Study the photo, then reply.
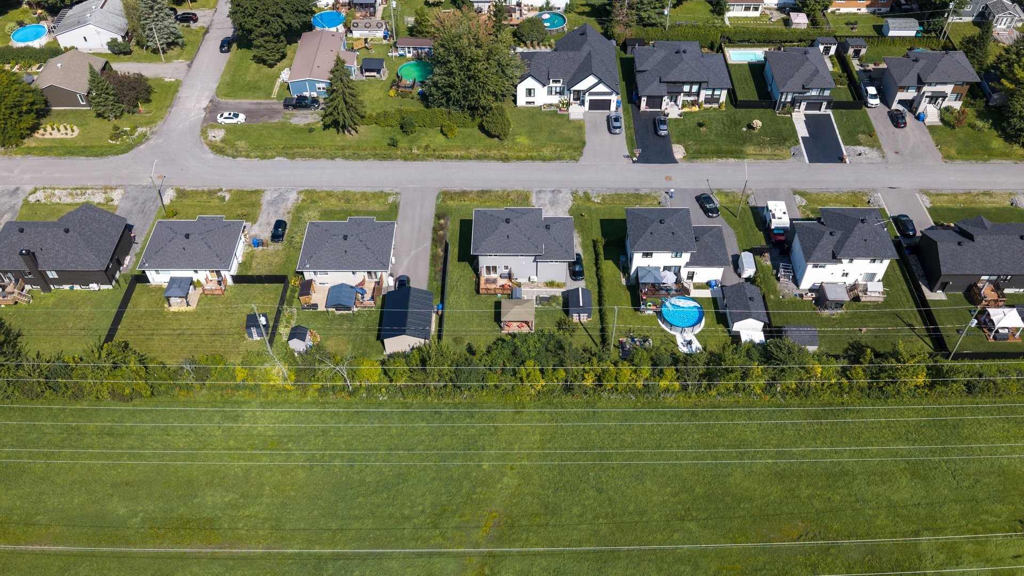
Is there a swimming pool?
Yes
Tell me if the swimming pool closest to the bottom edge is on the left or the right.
right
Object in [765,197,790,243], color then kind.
white vehicle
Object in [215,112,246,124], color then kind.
white vehicle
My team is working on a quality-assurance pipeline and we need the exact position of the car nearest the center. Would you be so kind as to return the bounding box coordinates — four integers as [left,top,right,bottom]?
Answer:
[570,254,586,281]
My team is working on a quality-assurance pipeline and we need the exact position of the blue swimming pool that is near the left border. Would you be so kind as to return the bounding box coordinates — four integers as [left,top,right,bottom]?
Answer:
[9,24,52,49]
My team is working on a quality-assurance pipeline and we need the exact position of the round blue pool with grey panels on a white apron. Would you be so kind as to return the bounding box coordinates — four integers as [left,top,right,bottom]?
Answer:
[660,297,705,339]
